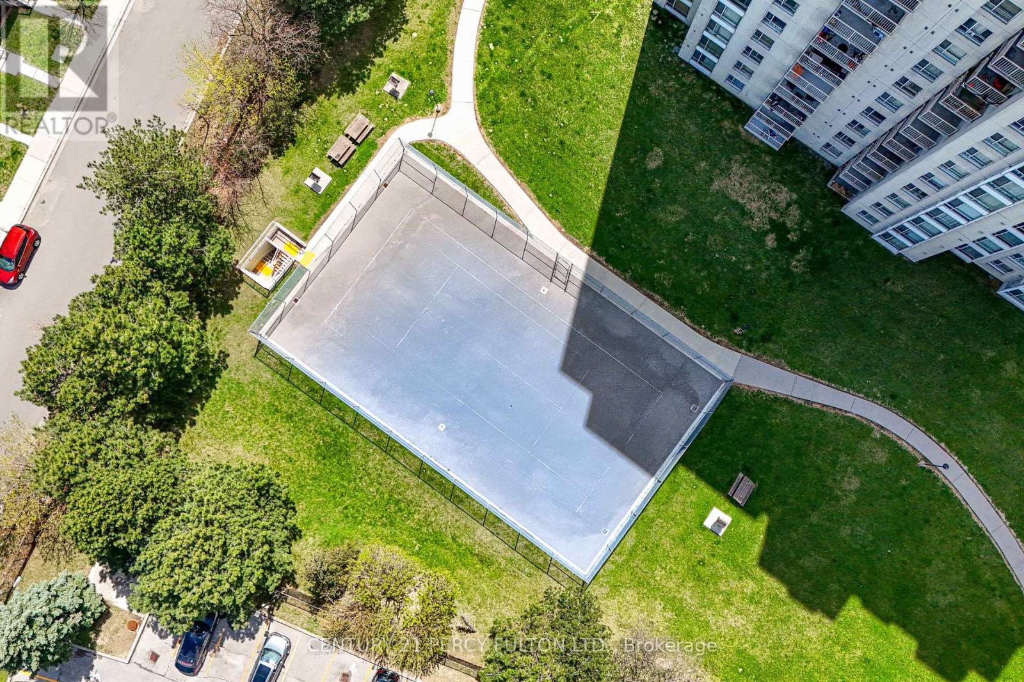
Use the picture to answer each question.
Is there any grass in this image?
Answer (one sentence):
Yes, there is grass in the image.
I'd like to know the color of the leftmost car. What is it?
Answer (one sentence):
From above, the leftmost car appears red.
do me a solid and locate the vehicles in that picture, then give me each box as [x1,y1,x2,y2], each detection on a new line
[173,604,224,678]
[0,222,39,282]
[247,627,293,682]
[371,657,404,682]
